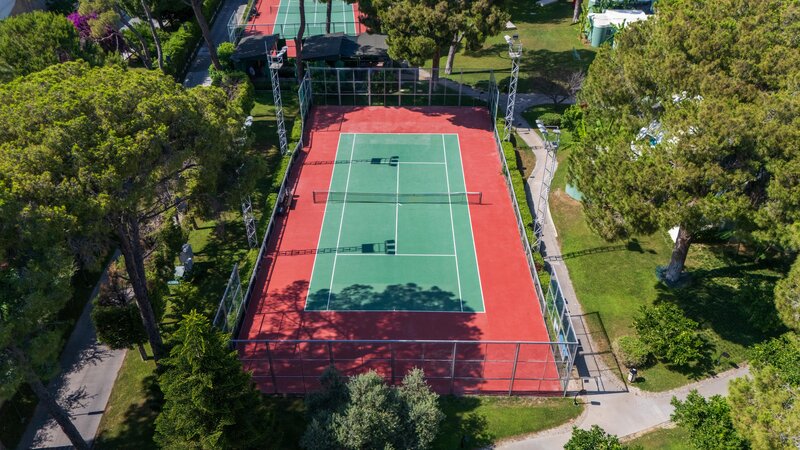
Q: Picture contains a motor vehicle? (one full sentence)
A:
No, the frame has no motor vehicle in it.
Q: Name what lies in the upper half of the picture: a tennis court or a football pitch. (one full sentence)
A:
You can see a tennis court in the upper half of the picture.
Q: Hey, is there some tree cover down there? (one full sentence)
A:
Yes, there is tree cover in the image.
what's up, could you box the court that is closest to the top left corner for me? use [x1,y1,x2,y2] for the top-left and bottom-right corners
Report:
[236,0,383,55]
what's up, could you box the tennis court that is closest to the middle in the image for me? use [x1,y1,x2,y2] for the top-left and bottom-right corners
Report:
[233,106,561,391]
